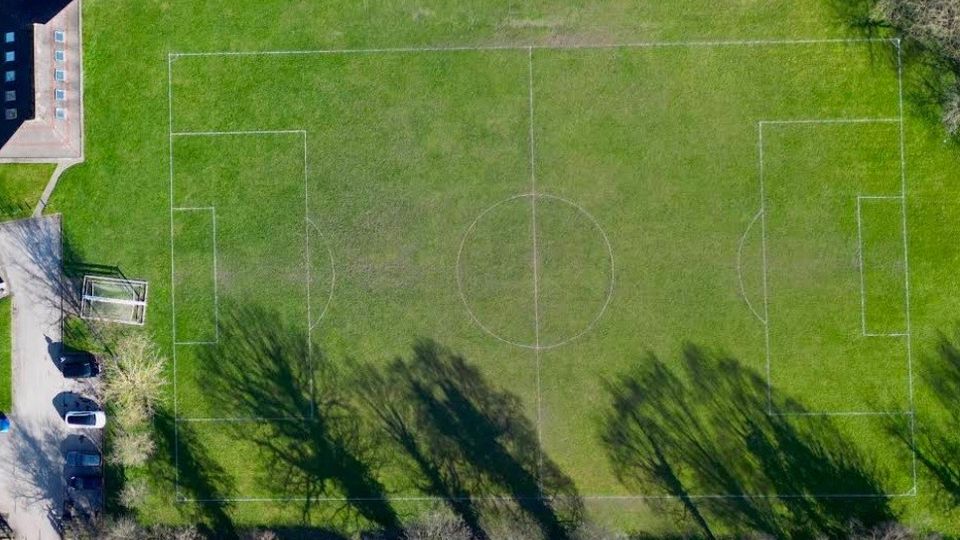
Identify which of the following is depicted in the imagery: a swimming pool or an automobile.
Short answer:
automobile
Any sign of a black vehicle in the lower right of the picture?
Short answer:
No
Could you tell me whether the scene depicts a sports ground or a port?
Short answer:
sports ground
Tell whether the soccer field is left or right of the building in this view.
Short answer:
to the right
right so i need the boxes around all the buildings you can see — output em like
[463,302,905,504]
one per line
[0,0,82,158]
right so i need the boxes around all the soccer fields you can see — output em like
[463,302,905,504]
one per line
[166,35,919,505]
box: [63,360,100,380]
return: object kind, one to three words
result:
car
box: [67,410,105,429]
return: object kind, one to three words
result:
car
